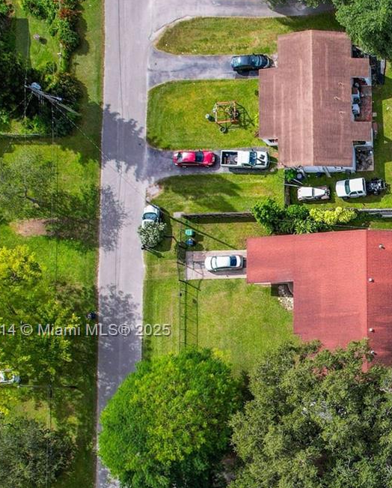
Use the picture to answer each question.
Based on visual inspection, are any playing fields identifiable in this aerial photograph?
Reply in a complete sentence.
No, no playing field can be seen from above.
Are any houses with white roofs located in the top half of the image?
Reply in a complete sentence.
No, there's no house with a white roof to be seen in the top half of the image.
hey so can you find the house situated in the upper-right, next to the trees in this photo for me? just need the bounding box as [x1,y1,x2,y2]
[259,30,373,176]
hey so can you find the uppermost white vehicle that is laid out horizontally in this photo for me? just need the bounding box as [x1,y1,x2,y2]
[220,147,270,170]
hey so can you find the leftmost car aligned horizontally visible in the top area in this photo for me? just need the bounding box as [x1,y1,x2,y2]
[172,149,216,167]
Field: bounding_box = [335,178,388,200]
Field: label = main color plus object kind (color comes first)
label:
white truck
